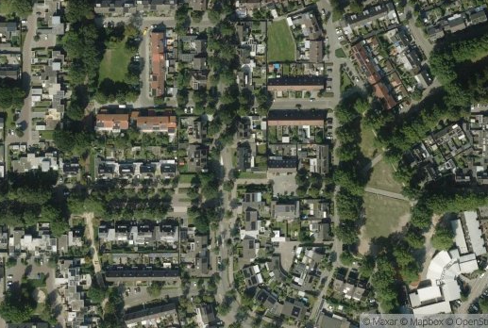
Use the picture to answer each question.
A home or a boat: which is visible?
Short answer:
home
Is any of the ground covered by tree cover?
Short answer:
Yes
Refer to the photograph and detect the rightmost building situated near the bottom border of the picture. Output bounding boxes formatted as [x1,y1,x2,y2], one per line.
[409,211,487,328]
